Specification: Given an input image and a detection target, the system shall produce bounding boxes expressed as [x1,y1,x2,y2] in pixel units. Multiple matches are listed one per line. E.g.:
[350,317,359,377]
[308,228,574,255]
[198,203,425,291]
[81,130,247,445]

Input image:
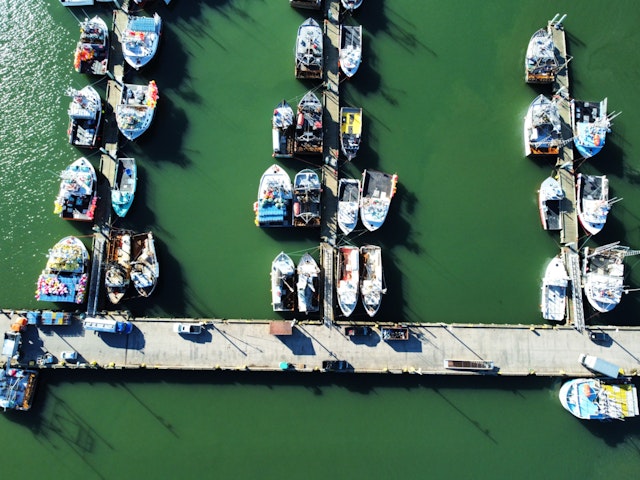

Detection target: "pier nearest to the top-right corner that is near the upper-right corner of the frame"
[548,22,570,90]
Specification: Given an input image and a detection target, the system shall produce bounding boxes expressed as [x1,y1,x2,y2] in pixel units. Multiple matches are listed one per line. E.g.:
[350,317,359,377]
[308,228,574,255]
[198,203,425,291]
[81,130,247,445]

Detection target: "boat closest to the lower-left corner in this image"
[0,367,43,414]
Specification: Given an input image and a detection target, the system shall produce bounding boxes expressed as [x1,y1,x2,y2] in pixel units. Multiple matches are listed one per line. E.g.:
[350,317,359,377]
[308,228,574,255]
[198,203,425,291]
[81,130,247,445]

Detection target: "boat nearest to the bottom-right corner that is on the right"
[558,376,640,424]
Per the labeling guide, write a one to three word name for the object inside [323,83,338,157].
pier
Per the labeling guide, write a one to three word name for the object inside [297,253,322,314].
boat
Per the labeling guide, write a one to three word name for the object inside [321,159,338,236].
pier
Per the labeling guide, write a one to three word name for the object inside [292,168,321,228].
boat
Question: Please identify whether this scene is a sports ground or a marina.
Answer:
marina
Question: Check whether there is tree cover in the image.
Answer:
No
